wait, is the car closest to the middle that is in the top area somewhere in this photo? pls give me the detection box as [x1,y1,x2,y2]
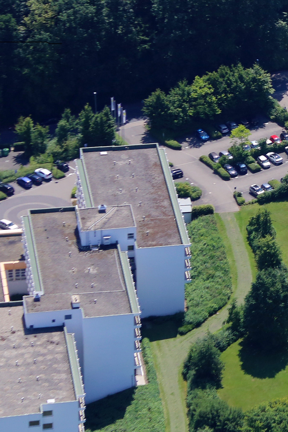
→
[171,165,189,177]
